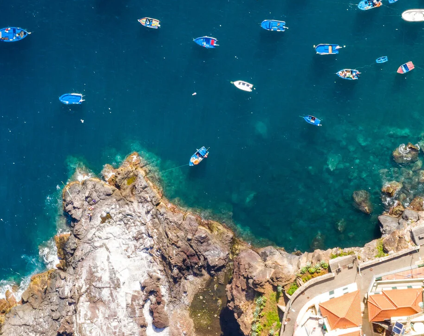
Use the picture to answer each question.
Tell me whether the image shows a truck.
No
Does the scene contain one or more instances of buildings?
Yes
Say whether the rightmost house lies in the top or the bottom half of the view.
bottom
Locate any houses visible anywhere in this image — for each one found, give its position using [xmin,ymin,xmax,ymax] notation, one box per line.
[319,285,363,331]
[367,287,424,324]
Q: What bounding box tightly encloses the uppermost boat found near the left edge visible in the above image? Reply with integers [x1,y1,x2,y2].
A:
[0,27,31,42]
